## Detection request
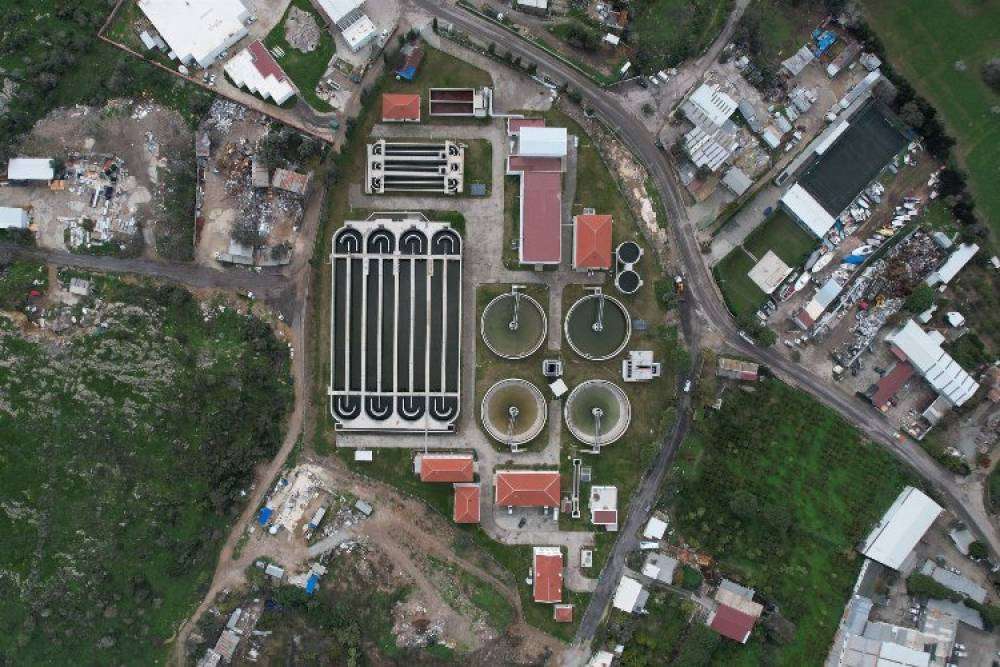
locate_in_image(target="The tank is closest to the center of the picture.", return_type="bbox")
[480,286,548,359]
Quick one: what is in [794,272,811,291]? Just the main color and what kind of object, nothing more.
white boat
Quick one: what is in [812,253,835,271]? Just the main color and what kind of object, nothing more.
white boat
